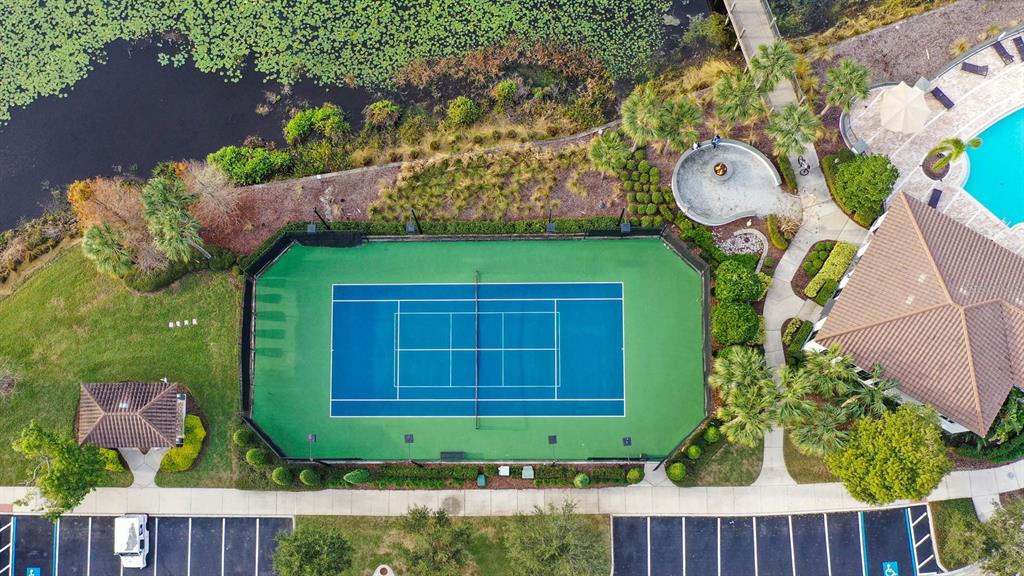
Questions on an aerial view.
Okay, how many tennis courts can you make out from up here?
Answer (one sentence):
Altogether the scene contains 1 tennis court.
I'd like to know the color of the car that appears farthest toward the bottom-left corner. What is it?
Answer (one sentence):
From above, the car that appears farthest toward the bottom-left corner appears white.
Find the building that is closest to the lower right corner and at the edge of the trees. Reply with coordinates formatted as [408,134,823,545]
[808,190,1024,437]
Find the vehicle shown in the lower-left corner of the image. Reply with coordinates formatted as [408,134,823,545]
[115,513,150,569]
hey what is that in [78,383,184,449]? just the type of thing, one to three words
gazebo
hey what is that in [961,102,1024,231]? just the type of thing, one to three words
swimming pool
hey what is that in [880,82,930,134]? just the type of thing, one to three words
umbrella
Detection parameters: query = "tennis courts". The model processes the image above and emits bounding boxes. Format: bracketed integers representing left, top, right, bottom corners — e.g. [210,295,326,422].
[252,237,707,460]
